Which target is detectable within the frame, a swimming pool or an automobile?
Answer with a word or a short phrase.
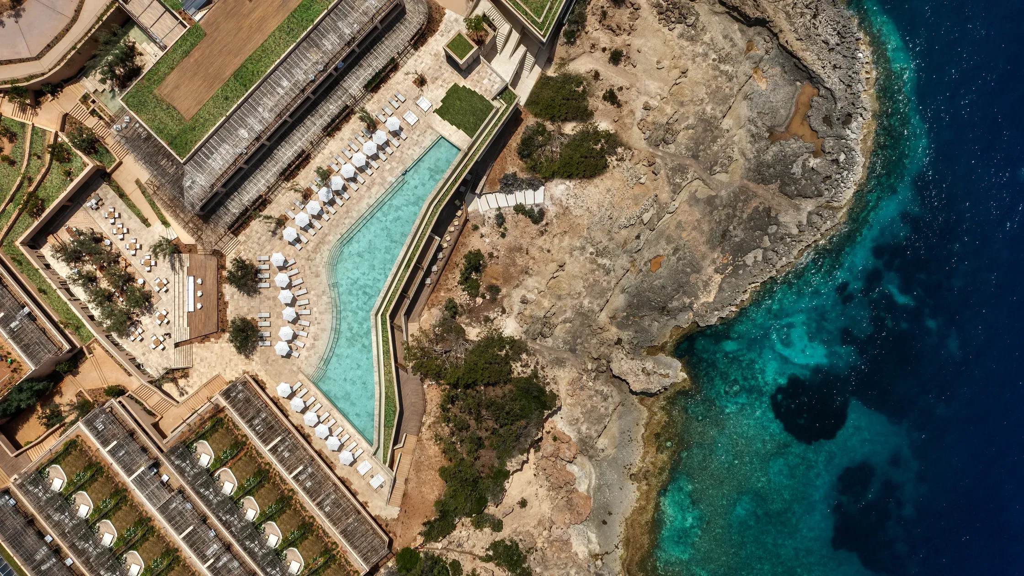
swimming pool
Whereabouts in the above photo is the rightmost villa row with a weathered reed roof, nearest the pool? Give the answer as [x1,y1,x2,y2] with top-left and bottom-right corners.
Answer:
[217,371,403,571]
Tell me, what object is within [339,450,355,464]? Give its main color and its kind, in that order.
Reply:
white umbrella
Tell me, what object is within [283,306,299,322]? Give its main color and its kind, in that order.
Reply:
white umbrella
